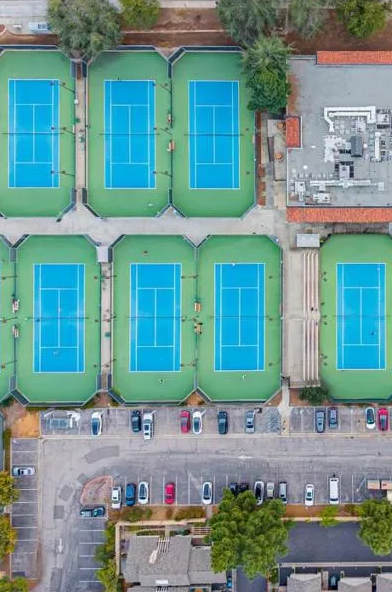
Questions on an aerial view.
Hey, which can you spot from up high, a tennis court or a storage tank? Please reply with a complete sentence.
The image shows a tennis court.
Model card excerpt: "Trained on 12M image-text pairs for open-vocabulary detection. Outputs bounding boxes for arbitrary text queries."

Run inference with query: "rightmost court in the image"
[320,235,392,399]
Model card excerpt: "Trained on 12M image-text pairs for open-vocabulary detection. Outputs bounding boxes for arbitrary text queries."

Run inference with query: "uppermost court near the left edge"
[0,51,73,216]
